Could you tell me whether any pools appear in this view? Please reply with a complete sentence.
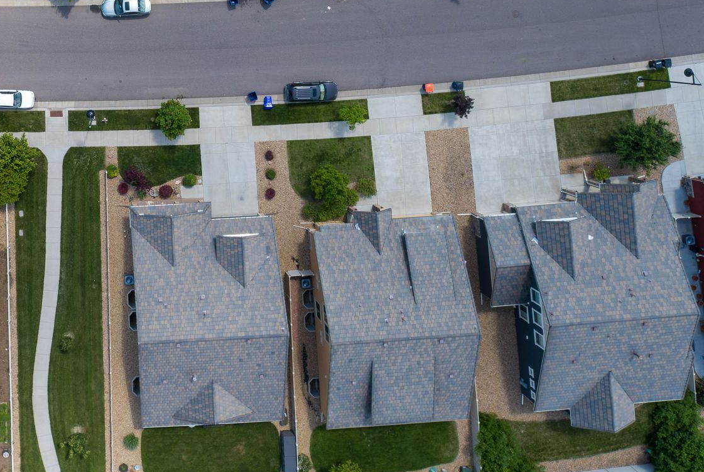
No, there appears to be no pool in this shot.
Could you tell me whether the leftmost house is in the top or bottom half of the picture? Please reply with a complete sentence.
The bottom half of the photo is where the leftmost house is.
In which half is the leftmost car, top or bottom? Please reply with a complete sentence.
Seen from above, the leftmost car lies in the top half of the view.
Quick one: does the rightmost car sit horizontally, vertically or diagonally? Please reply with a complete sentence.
In this picture, the rightmost car is oriented horizontally.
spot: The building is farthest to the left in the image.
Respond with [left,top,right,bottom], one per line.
[125,199,286,431]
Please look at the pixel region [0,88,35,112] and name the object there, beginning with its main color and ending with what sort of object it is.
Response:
white car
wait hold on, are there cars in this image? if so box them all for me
[0,88,35,112]
[283,79,337,104]
[101,0,152,20]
